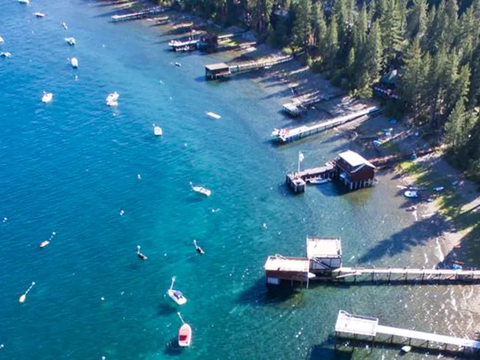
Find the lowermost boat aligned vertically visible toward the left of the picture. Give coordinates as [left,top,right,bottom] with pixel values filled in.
[178,322,192,351]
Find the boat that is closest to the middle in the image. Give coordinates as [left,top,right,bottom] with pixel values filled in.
[192,185,213,197]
